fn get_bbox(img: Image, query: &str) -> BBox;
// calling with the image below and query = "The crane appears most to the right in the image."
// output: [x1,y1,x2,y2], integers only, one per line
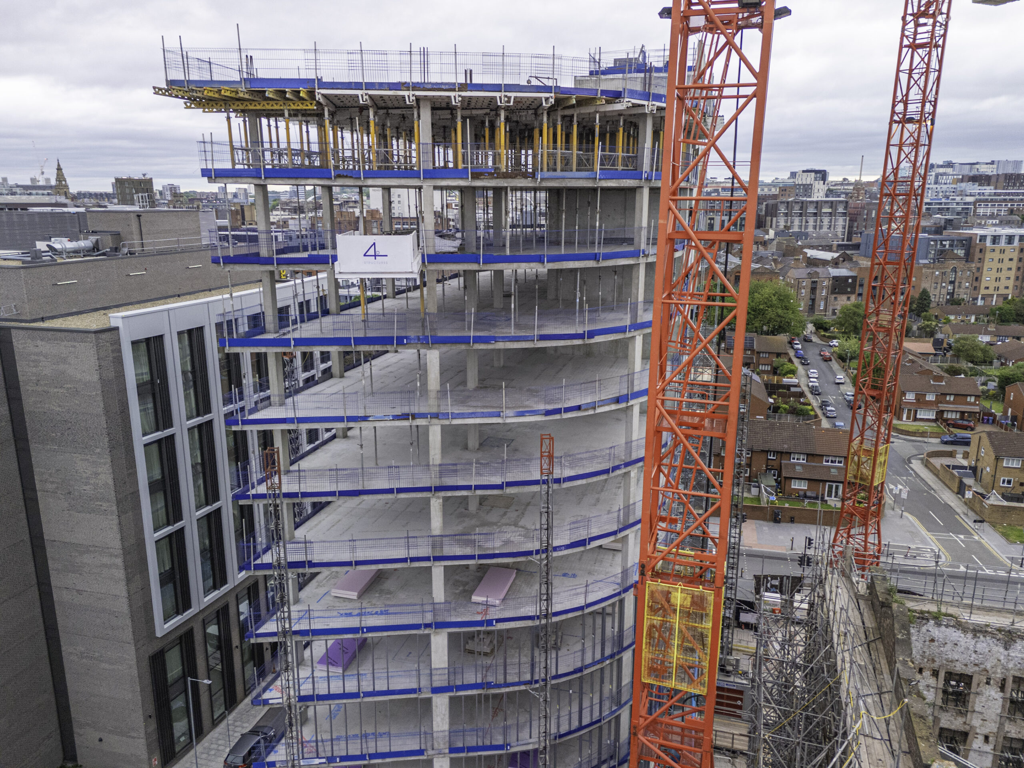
[824,0,951,578]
